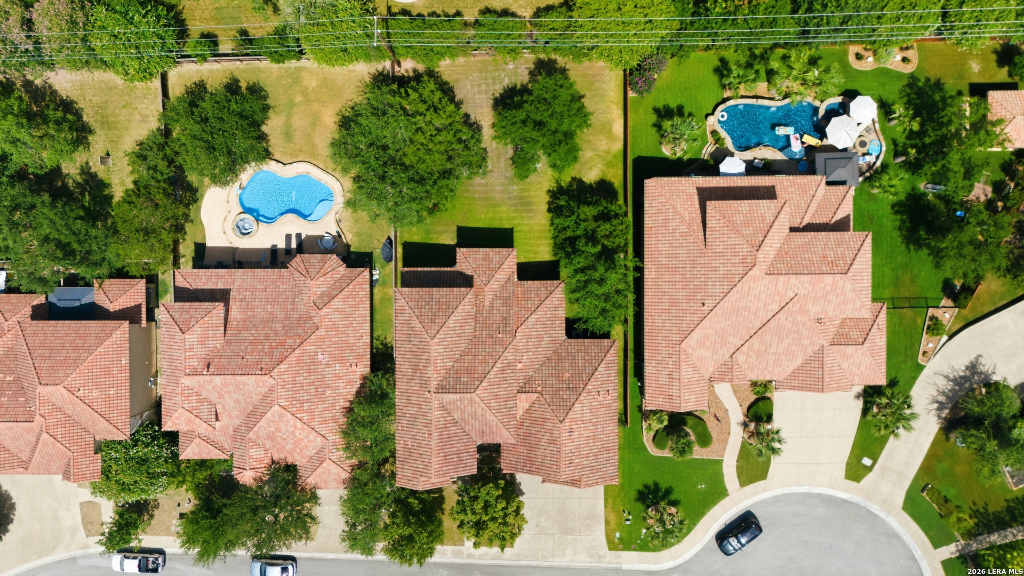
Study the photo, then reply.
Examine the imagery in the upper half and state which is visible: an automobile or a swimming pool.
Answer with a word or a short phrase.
swimming pool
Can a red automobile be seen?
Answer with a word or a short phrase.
No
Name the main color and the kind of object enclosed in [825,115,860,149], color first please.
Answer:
white umbrella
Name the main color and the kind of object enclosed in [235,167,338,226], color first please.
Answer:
blue swimming pool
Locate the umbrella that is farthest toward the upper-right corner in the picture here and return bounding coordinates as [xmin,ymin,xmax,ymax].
[849,96,877,123]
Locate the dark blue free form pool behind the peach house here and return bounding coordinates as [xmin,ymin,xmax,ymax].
[704,96,828,163]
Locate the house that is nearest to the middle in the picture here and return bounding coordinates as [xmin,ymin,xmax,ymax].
[394,247,619,490]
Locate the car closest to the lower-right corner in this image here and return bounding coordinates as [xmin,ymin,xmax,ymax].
[717,518,763,556]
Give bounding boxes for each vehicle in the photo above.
[717,518,763,556]
[250,558,296,576]
[111,552,166,576]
